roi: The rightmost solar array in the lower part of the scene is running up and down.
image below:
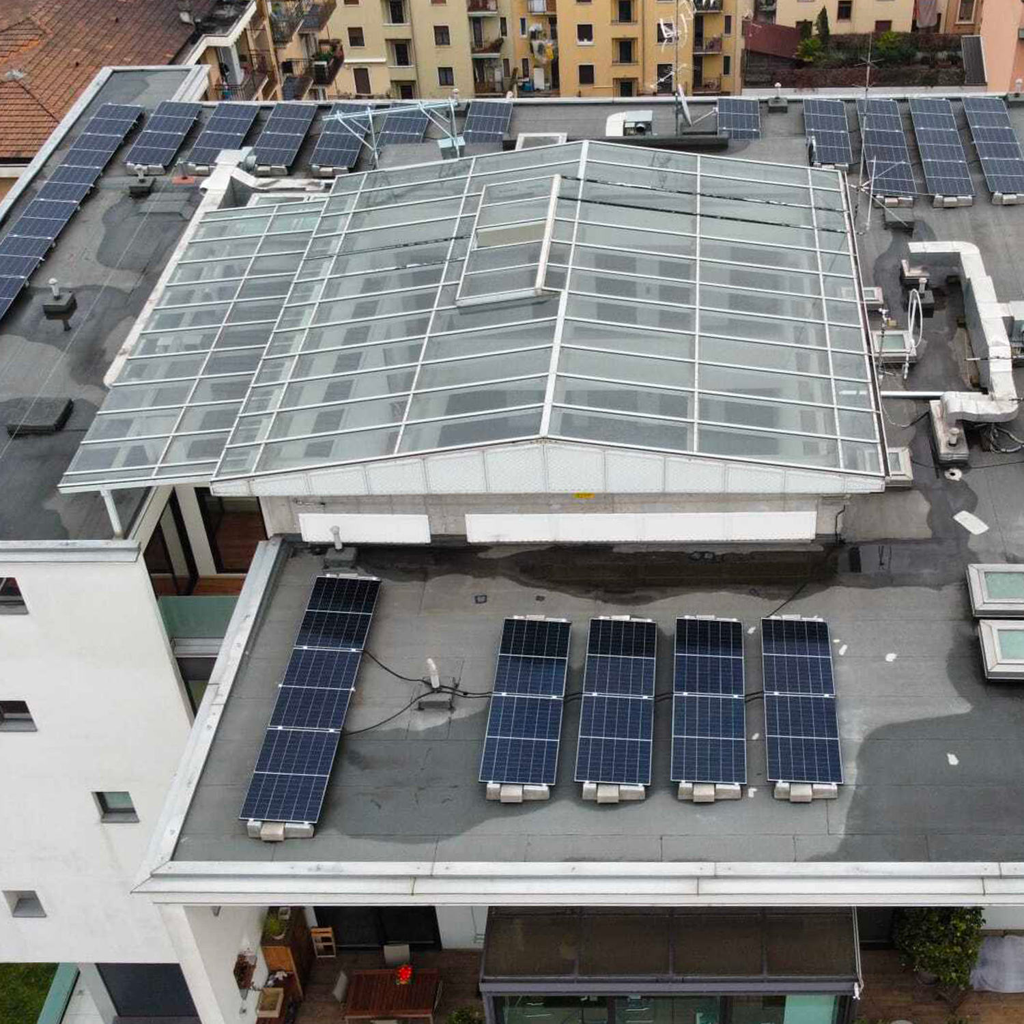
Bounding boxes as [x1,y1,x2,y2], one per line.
[759,614,847,807]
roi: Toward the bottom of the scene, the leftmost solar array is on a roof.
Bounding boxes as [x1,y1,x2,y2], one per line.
[239,574,382,849]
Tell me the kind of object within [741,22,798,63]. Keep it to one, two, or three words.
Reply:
shed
